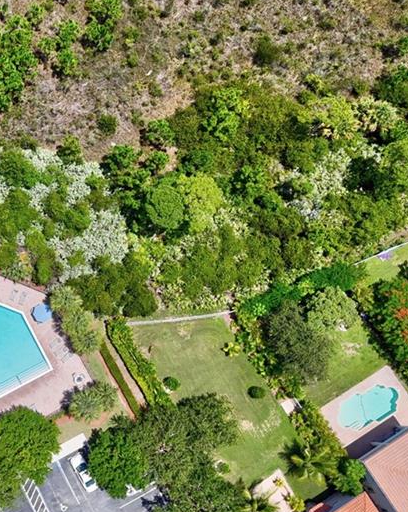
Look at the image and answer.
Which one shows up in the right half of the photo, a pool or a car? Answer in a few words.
pool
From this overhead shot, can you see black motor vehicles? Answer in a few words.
No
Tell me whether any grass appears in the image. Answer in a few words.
Yes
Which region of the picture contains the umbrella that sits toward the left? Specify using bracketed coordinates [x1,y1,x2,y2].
[32,303,52,324]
